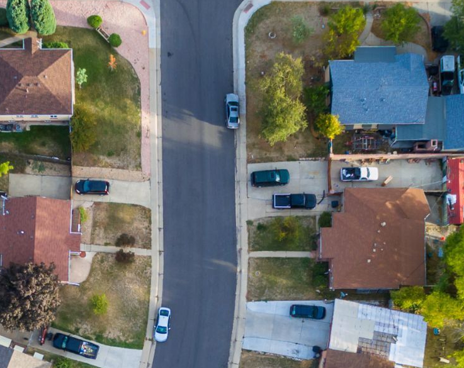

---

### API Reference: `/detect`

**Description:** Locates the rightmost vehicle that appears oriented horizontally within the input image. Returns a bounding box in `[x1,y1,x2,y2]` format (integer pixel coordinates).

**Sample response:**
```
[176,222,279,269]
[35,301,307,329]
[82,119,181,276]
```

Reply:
[339,164,378,182]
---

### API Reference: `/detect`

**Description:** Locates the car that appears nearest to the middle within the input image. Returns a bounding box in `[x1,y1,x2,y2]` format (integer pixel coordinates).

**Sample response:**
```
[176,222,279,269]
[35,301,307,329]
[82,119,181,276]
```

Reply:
[250,167,290,186]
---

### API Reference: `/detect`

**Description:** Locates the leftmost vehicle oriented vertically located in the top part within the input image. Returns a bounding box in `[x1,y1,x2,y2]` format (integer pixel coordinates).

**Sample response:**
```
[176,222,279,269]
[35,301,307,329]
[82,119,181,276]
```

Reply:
[224,93,241,130]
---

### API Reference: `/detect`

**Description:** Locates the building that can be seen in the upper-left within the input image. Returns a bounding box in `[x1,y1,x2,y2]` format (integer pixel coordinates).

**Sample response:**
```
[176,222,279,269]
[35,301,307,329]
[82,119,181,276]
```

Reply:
[0,28,72,121]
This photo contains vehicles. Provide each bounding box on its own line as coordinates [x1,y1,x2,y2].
[339,164,378,182]
[74,177,110,195]
[51,333,100,359]
[438,50,458,92]
[272,191,316,209]
[153,307,170,342]
[430,24,446,53]
[250,167,290,186]
[224,93,241,130]
[289,303,326,321]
